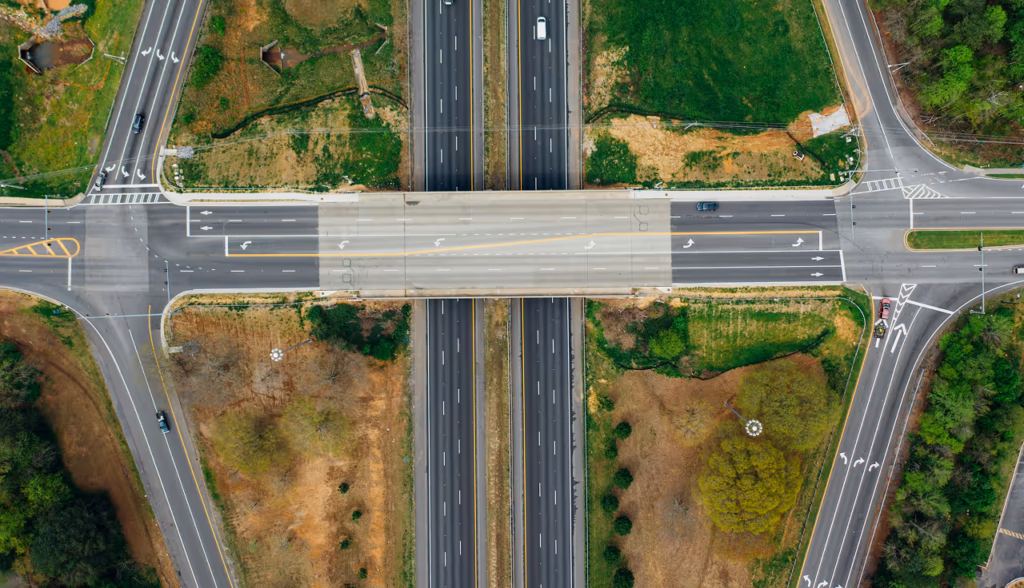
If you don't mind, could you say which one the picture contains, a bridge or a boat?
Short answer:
bridge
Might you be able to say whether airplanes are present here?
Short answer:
No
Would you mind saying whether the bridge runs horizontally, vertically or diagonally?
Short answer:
horizontally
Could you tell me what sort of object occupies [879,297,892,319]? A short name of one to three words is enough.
vehicle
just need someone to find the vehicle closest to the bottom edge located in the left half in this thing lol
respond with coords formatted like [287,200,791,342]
[155,410,171,434]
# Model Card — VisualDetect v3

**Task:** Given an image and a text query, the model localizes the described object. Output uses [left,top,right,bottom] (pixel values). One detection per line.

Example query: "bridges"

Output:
[318,188,670,299]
